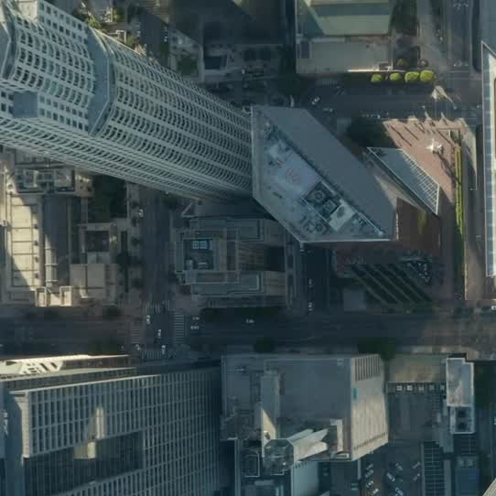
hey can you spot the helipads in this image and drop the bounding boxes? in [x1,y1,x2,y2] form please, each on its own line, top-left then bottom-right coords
[274,142,319,186]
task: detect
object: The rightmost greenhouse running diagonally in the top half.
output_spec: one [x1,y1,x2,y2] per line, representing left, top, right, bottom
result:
[368,147,442,215]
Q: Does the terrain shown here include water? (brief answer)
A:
No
